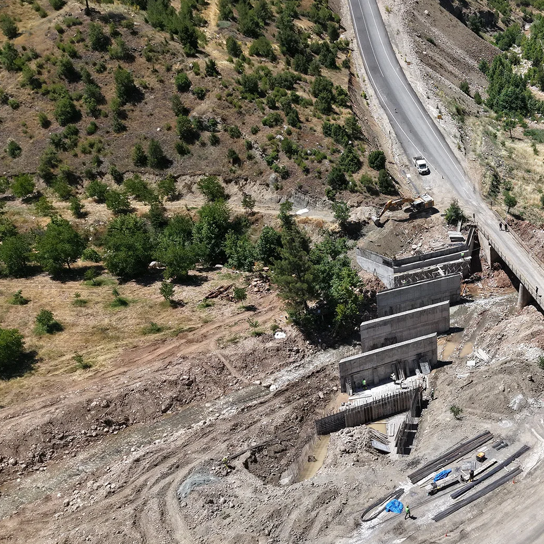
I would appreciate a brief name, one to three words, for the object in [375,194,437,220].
work vehicle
